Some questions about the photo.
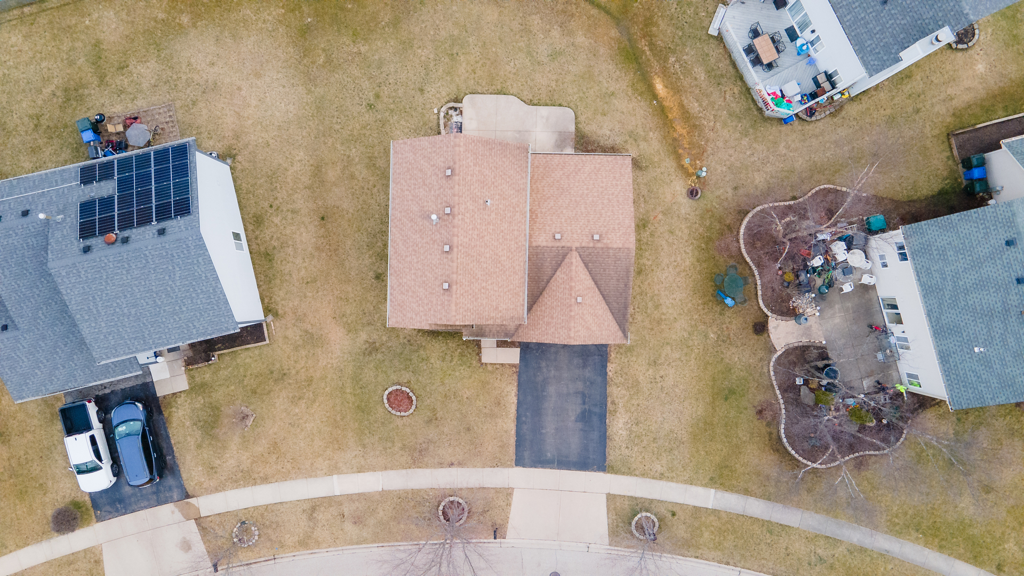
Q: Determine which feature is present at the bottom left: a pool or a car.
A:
car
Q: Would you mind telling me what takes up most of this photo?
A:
grass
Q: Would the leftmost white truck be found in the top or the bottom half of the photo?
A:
bottom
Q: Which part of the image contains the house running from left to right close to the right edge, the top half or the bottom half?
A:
top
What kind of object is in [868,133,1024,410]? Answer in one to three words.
house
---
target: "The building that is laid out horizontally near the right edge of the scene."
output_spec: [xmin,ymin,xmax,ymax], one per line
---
[784,0,1006,102]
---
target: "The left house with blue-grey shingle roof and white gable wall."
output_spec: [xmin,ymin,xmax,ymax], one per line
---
[0,137,270,406]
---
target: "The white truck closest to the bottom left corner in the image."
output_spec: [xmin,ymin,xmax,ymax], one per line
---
[60,396,119,495]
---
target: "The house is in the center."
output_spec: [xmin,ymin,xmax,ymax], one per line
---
[385,134,635,344]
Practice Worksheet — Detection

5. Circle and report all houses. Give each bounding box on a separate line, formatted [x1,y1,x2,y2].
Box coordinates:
[385,134,635,344]
[0,137,270,406]
[868,133,1024,410]
[784,0,1006,102]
